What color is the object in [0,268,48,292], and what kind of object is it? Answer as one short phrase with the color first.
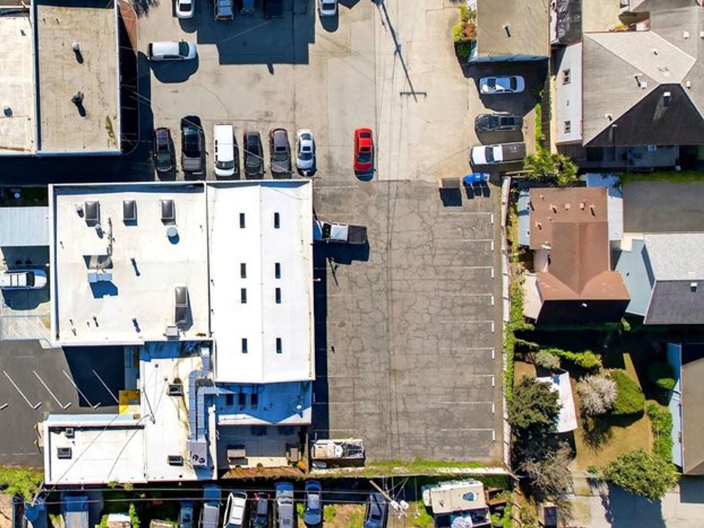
white car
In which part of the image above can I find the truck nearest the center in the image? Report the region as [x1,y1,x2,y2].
[314,220,369,245]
